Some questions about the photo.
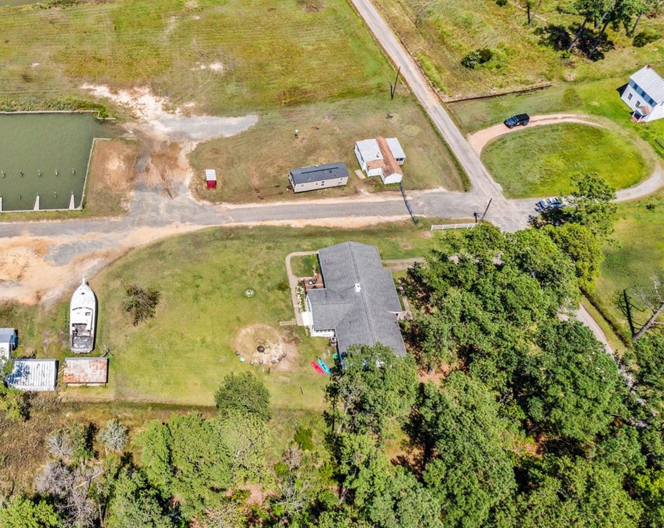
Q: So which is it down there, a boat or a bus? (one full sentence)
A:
I can see a boat in this picture.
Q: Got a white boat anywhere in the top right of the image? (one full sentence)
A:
No, no white boat can be made out in the top right of the image.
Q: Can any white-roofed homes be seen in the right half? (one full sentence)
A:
Yes, there is a white-roofed home in the right half.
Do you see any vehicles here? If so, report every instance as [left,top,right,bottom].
[538,193,567,209]
[504,113,530,127]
